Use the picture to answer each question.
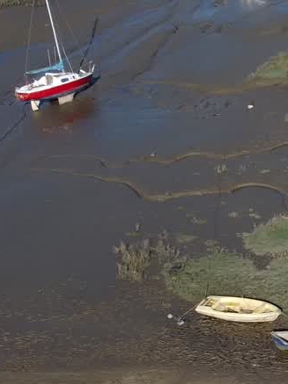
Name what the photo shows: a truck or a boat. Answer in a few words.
boat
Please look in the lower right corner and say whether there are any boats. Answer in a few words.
Yes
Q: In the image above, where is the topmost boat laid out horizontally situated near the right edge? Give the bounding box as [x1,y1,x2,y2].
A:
[197,295,280,321]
